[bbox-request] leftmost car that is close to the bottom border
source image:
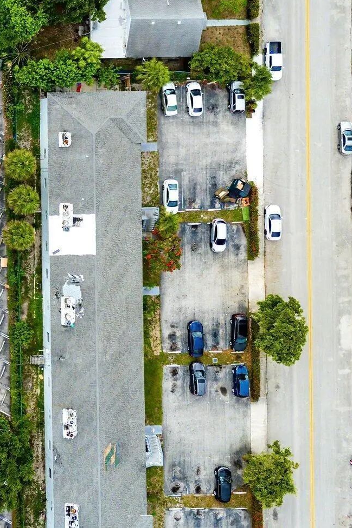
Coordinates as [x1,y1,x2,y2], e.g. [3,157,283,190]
[212,465,232,502]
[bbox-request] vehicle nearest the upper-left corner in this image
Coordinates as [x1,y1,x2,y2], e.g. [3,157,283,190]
[160,81,178,117]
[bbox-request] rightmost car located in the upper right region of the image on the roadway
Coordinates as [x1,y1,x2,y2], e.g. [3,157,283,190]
[335,121,352,156]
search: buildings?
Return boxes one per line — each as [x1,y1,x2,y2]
[37,90,163,528]
[84,0,212,59]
